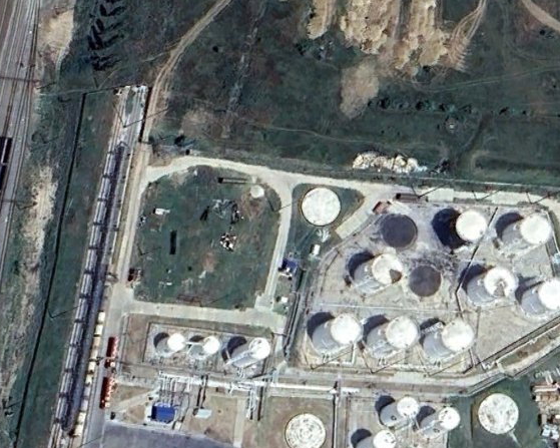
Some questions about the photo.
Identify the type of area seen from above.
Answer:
industrial area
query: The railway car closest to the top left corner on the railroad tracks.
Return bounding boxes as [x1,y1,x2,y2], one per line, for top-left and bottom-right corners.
[0,137,13,165]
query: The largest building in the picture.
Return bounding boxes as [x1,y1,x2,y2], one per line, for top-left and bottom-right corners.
[151,406,177,424]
